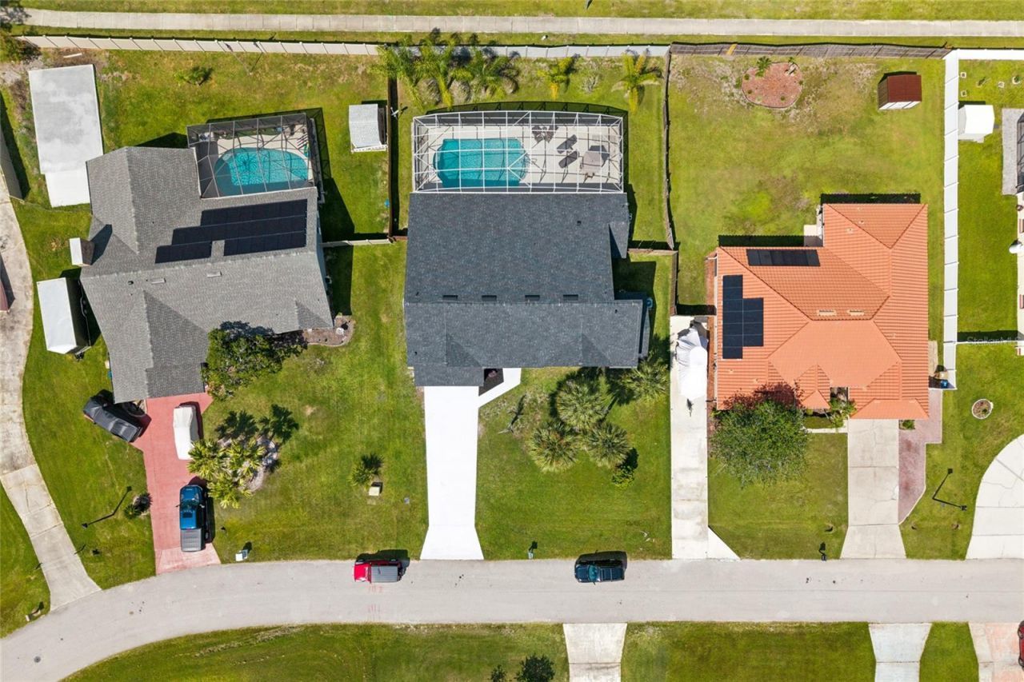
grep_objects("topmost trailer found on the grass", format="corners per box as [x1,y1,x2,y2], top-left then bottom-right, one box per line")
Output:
[40,278,93,363]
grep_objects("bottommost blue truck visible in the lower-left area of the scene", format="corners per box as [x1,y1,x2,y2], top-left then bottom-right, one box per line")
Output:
[177,487,206,550]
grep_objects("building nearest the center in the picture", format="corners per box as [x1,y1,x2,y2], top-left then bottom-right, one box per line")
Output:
[405,192,649,386]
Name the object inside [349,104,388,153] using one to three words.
shed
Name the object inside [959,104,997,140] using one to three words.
shed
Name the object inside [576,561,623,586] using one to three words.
car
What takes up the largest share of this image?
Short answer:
grass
